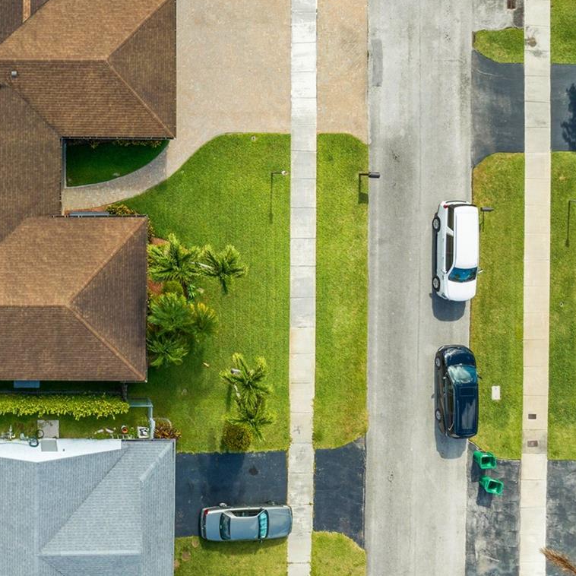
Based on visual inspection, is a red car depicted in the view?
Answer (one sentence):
No, no red car is visible in the view.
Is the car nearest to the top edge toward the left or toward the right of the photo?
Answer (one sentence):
It is on the right.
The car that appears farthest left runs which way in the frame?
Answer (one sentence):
Seen from above, the car that appears farthest left lies from side to side.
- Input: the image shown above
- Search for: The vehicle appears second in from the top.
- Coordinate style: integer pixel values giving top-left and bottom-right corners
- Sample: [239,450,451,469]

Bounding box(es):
[435,348,487,448]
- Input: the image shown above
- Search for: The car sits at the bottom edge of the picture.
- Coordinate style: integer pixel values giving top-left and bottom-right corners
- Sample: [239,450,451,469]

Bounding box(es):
[197,501,291,549]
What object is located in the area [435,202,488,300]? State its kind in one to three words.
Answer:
car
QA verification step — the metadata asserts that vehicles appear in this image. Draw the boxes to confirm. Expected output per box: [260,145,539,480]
[435,348,487,448]
[197,501,291,549]
[435,202,488,300]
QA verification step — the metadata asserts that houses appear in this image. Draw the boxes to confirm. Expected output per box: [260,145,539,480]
[0,437,177,576]
[0,0,178,390]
